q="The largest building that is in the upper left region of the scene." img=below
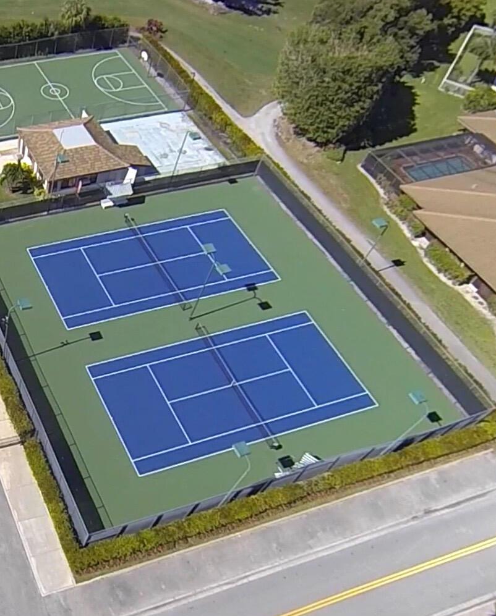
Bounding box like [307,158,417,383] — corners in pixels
[17,116,152,195]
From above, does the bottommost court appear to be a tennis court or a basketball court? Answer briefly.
tennis court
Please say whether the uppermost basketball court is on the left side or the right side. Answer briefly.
left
